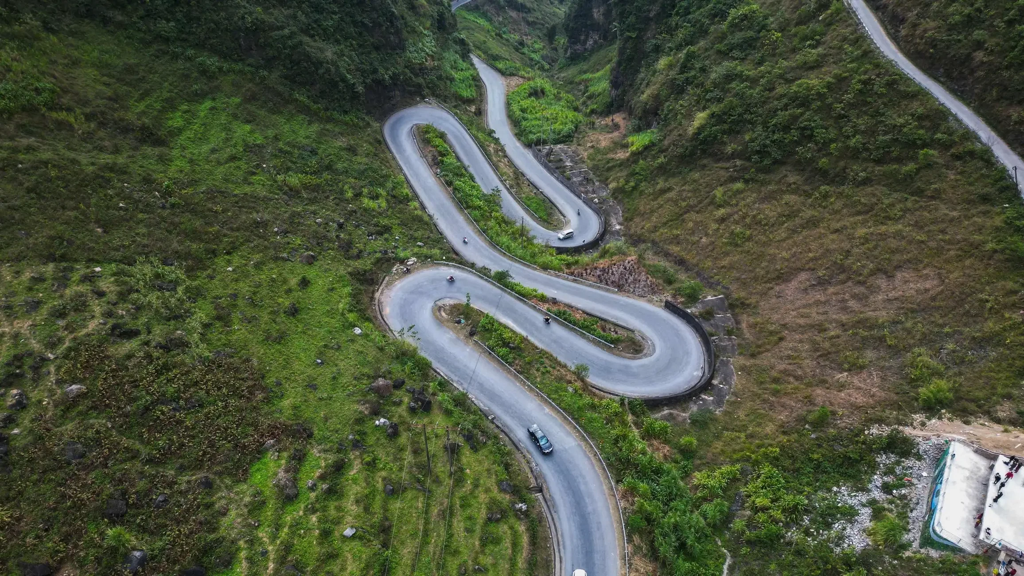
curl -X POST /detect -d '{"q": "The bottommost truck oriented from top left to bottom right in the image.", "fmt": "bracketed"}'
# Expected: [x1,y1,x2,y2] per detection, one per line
[527,424,554,454]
